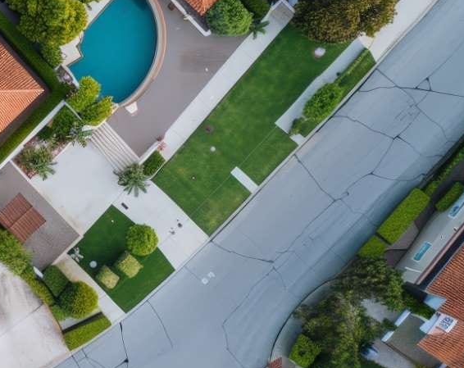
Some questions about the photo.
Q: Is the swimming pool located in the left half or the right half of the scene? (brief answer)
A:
left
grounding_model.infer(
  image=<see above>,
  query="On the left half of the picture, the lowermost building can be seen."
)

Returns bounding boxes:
[0,193,46,243]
